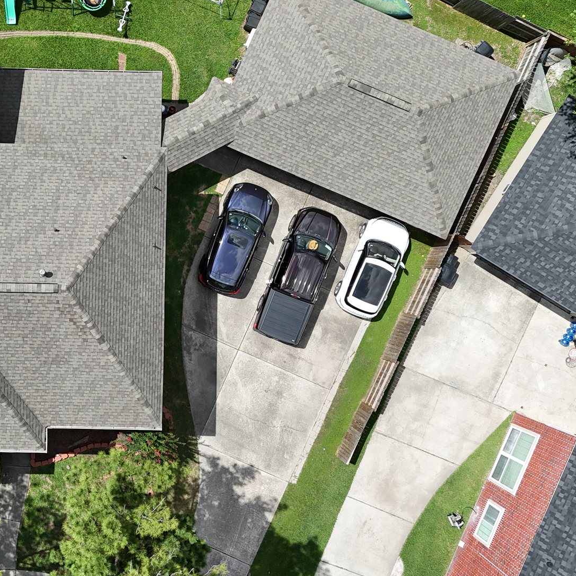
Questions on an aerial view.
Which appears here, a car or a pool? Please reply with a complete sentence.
Visible in the photo is a car.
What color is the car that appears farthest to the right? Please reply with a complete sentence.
The car that appears farthest to the right looks white in the image.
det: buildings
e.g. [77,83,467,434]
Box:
[0,65,170,455]
[225,0,520,241]
[463,93,576,314]
[454,417,576,576]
